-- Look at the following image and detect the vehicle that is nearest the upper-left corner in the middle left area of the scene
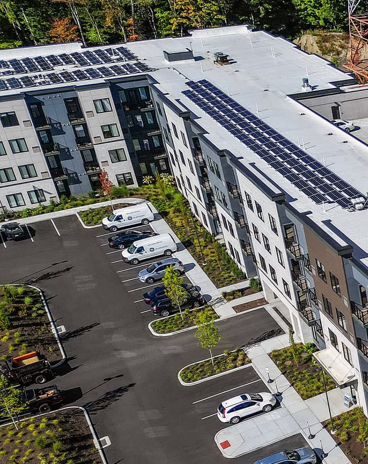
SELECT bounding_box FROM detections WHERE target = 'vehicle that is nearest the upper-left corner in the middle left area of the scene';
[0,221,24,241]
